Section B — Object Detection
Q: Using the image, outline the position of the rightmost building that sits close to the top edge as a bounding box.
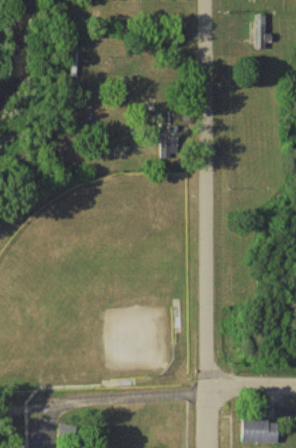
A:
[253,14,272,50]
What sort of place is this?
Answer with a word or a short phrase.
sports ground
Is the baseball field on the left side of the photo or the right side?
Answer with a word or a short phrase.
left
